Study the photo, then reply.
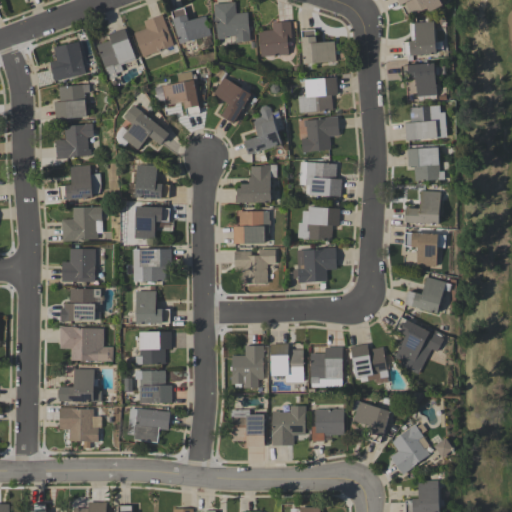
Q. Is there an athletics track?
No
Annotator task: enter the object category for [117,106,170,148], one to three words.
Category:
house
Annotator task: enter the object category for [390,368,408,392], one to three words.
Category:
swimming pool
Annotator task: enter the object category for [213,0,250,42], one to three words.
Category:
house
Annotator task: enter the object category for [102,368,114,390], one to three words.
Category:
swimming pool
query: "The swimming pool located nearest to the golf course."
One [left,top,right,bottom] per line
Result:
[422,407,438,426]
